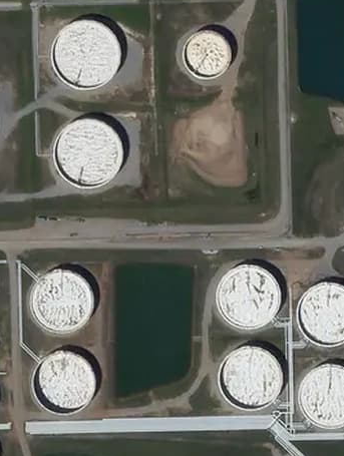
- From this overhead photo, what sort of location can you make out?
industrial area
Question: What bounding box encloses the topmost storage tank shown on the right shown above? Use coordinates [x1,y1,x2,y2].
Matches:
[181,29,232,80]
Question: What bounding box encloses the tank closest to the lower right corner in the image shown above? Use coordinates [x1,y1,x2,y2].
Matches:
[297,363,344,430]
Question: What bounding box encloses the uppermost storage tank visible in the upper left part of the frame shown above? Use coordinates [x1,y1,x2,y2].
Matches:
[50,19,122,91]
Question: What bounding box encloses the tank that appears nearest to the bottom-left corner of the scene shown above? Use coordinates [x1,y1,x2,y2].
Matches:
[31,350,97,416]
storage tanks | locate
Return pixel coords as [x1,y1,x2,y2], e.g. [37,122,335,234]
[31,269,94,332]
[217,344,285,412]
[50,19,122,91]
[215,264,282,331]
[296,281,344,348]
[53,118,125,189]
[181,29,232,80]
[297,363,344,430]
[31,350,97,416]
